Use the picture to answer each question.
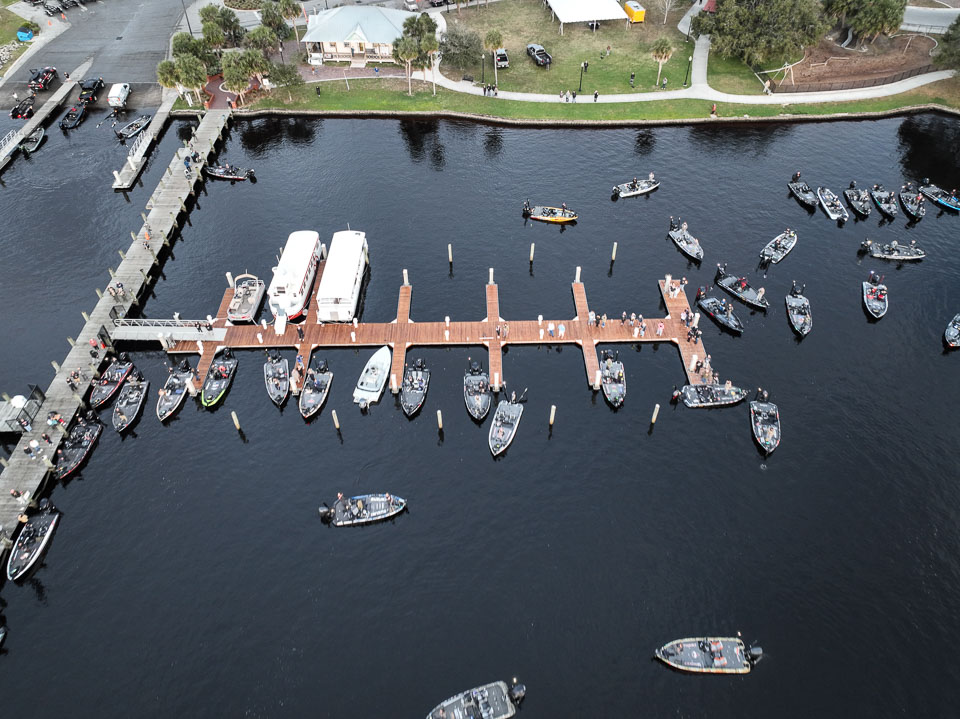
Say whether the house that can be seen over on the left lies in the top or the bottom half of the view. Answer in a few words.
top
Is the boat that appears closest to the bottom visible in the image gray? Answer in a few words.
Yes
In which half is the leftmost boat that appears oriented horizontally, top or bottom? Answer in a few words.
top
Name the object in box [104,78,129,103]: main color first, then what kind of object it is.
white vehicle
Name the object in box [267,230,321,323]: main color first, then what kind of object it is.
white boat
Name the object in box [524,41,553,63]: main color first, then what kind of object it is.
gray truck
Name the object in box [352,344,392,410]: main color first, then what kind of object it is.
white boat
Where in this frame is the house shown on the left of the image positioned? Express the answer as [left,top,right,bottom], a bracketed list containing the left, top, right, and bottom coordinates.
[302,0,410,67]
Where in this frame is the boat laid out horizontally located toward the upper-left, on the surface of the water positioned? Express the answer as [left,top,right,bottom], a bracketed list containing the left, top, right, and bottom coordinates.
[202,159,252,180]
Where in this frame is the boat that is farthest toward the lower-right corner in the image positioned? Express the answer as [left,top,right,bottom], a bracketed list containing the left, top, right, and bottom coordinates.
[655,636,759,672]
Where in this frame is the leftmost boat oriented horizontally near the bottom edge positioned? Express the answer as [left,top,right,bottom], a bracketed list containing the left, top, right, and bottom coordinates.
[432,682,520,719]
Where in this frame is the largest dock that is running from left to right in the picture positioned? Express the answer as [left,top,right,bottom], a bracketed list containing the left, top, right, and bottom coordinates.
[162,243,715,400]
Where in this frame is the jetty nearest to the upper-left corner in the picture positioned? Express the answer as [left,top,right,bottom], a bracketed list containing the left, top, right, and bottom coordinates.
[0,82,77,178]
